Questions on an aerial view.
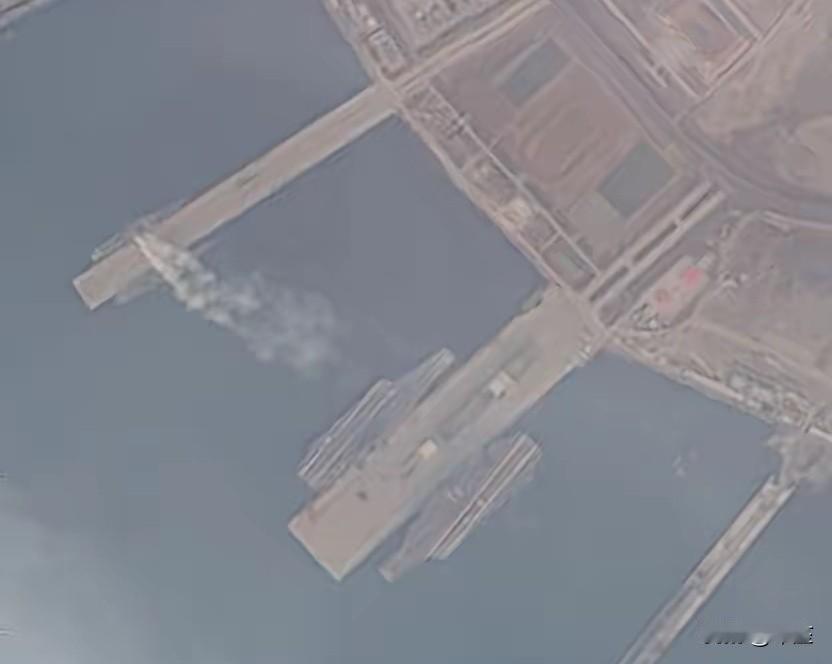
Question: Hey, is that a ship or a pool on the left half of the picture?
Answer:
ship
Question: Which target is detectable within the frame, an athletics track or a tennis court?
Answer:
athletics track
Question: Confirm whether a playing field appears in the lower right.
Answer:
No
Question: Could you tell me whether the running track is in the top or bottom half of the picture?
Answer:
top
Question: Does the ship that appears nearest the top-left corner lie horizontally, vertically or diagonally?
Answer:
diagonally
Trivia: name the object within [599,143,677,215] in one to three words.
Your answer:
sports field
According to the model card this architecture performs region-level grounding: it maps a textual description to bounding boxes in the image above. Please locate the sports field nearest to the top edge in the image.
[500,41,572,105]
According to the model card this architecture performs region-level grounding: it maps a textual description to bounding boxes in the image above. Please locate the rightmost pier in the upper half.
[72,77,401,310]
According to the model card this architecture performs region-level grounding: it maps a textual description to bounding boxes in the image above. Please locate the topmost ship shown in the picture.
[89,212,162,264]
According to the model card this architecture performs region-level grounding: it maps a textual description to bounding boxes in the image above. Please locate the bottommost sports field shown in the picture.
[569,191,623,249]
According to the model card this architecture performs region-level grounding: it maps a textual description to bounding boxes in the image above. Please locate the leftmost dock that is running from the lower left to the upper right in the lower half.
[288,283,600,582]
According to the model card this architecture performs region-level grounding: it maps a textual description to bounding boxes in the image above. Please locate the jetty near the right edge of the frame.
[617,475,798,664]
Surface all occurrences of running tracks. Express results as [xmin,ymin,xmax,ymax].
[519,91,612,182]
